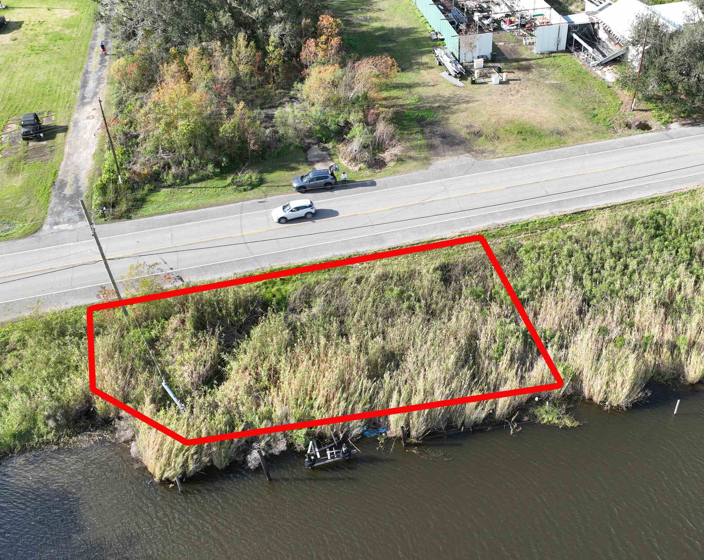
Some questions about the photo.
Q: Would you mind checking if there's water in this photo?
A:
Yes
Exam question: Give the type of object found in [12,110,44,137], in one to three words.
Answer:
car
